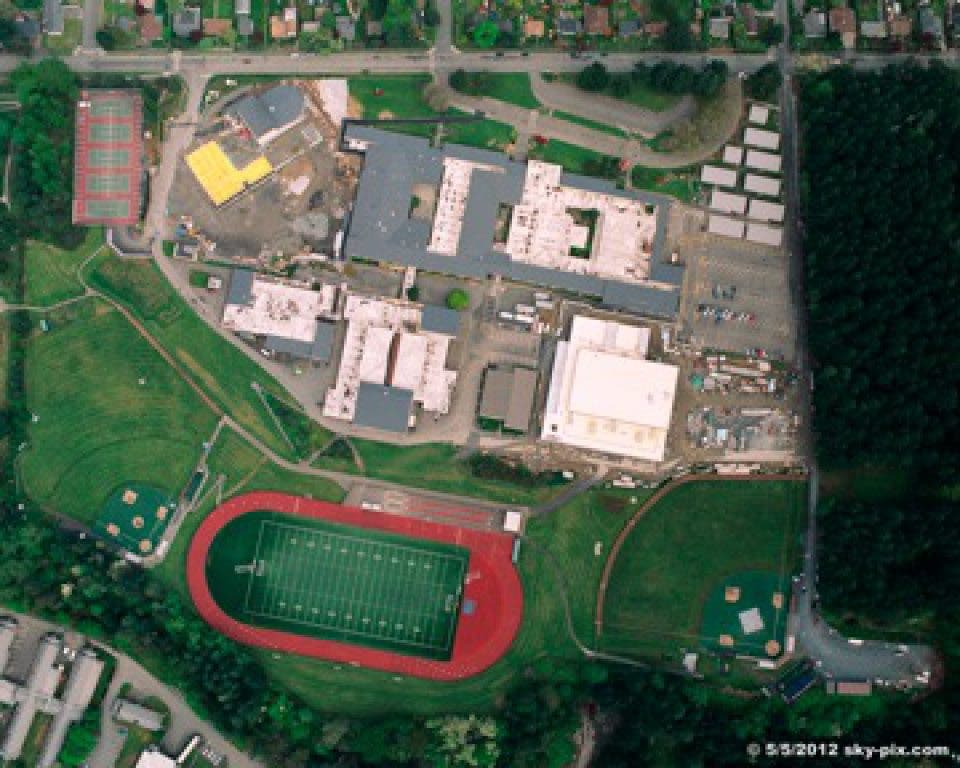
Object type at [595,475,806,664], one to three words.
baseball field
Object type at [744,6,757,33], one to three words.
house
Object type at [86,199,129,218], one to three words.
tennis court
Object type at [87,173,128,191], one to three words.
tennis court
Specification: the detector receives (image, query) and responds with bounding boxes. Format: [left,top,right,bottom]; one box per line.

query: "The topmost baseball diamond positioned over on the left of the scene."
[90,481,185,559]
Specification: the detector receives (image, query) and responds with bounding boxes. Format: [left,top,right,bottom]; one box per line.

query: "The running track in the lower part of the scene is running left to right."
[186,491,523,680]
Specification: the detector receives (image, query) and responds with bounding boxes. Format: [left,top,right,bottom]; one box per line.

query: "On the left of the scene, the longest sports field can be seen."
[204,510,473,662]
